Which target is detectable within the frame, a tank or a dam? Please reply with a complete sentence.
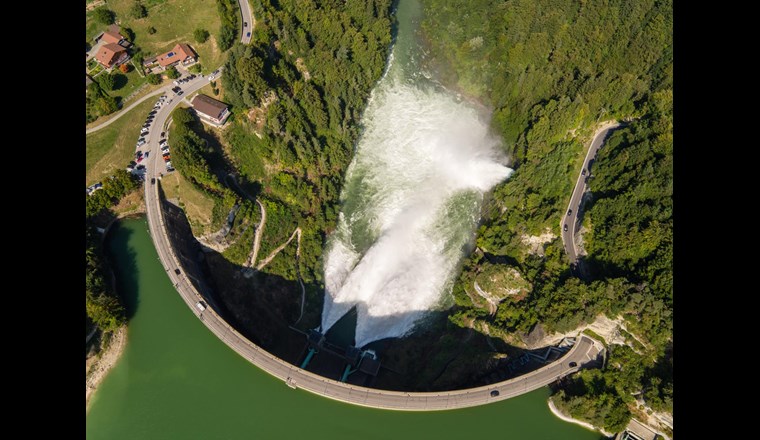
Looking from above, you can make out a dam.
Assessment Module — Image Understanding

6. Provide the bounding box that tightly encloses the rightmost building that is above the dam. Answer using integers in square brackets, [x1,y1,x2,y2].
[194,94,233,128]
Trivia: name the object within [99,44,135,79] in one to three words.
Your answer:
house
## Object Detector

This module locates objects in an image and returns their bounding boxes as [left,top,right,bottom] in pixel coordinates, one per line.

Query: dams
[145,174,583,411]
